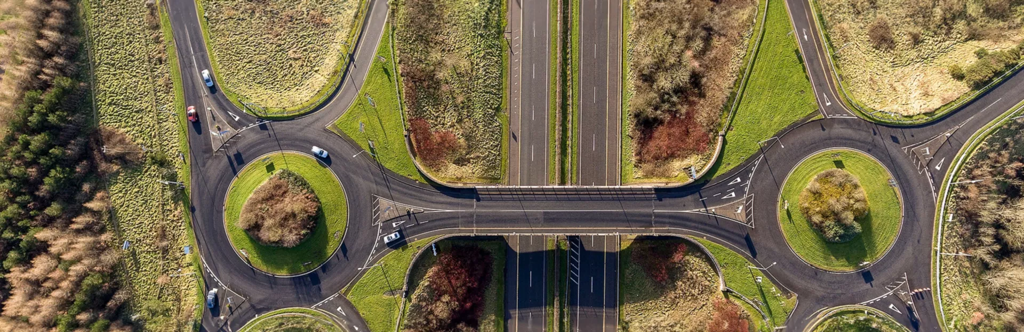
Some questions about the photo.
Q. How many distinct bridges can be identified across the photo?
1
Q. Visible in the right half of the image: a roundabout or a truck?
roundabout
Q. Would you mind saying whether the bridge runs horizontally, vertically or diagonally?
horizontally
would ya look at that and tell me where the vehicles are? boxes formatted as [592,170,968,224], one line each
[383,231,402,245]
[199,69,215,88]
[310,146,330,159]
[206,289,218,308]
[187,105,199,122]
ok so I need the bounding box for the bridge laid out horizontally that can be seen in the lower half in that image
[473,184,659,237]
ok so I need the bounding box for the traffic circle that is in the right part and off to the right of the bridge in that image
[753,121,930,299]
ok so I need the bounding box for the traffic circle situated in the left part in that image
[197,125,375,303]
